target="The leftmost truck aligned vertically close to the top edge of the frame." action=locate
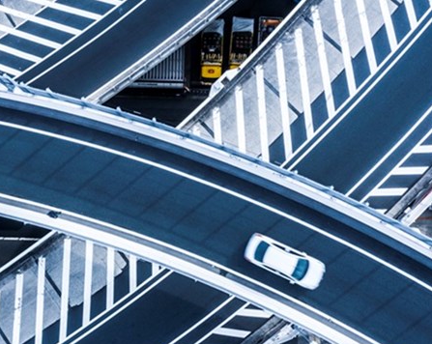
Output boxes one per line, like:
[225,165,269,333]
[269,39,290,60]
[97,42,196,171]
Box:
[200,16,227,82]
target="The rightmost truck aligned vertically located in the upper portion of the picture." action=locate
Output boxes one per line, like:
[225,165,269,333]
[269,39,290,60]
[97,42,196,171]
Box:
[228,12,255,70]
